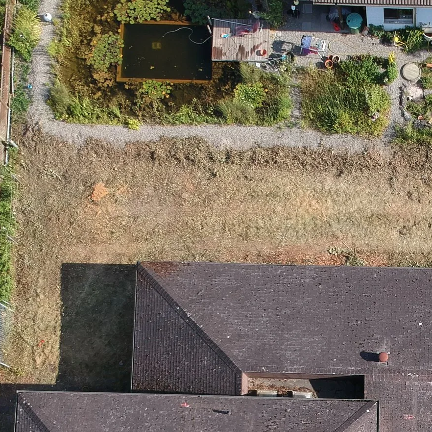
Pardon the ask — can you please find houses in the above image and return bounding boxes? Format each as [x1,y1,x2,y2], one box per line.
[111,260,432,432]
[310,0,432,30]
